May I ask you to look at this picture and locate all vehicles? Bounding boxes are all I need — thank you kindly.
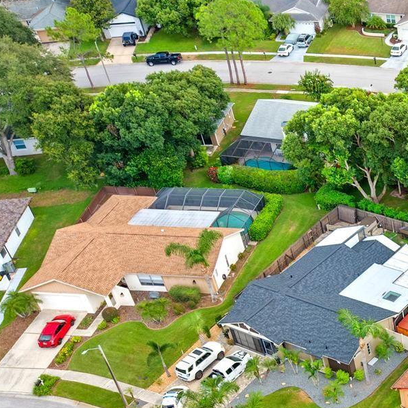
[391,45,405,56]
[170,341,224,380]
[35,315,72,348]
[296,33,311,47]
[153,380,192,408]
[198,343,258,388]
[146,50,181,65]
[277,46,291,56]
[284,35,298,46]
[120,30,136,43]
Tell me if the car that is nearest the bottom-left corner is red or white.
red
